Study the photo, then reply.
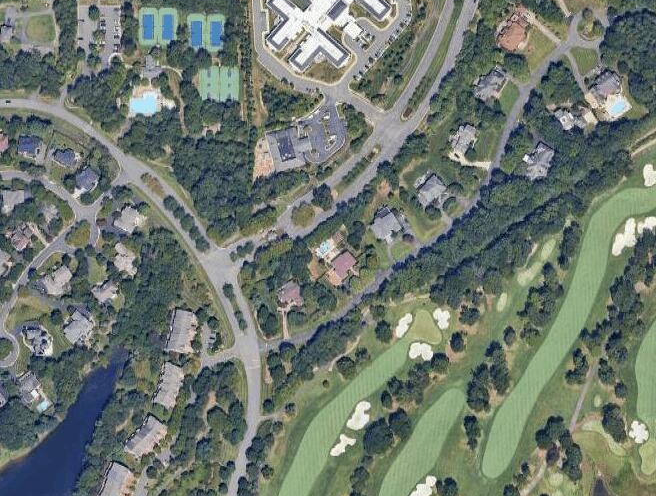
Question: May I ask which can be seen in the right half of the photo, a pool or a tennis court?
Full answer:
What appears in the right half of the photo is a pool.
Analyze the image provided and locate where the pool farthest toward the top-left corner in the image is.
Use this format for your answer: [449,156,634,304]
[128,85,173,117]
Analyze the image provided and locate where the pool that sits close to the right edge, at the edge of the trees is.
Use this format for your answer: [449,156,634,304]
[601,95,631,121]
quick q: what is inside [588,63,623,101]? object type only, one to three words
house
